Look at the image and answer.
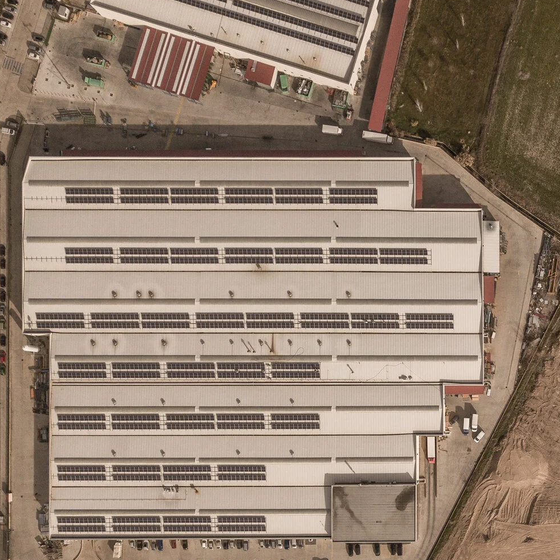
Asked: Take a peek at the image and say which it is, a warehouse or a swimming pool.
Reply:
warehouse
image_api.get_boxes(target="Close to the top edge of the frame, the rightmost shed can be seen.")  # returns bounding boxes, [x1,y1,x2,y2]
[369,0,412,132]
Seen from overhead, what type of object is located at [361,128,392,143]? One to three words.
vehicle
